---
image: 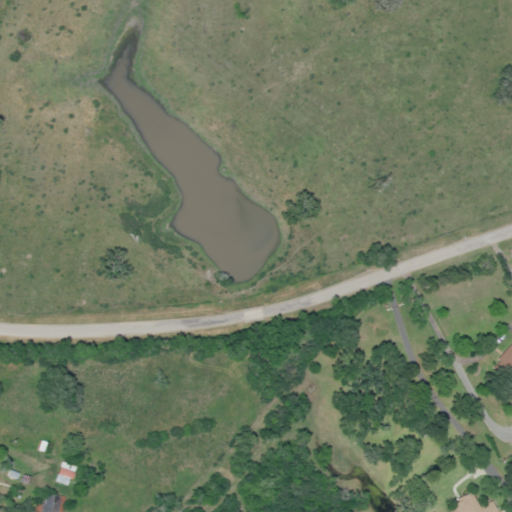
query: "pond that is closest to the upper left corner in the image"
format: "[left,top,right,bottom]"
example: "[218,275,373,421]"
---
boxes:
[101,20,278,281]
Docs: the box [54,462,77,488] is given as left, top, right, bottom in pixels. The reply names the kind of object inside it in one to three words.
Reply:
barn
